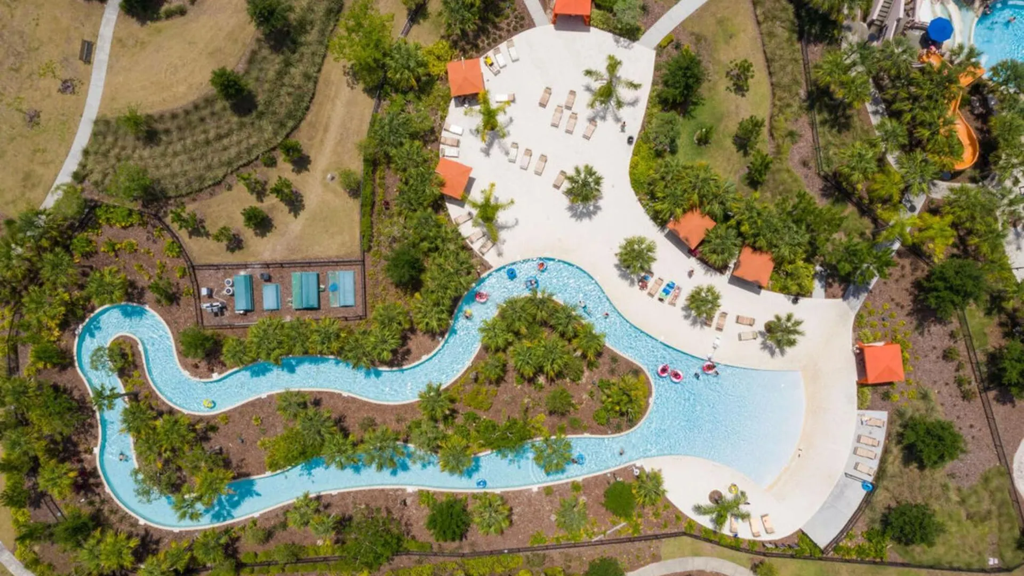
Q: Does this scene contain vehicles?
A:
No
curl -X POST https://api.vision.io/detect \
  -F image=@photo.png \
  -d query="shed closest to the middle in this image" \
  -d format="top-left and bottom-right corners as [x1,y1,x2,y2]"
[329,271,356,306]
